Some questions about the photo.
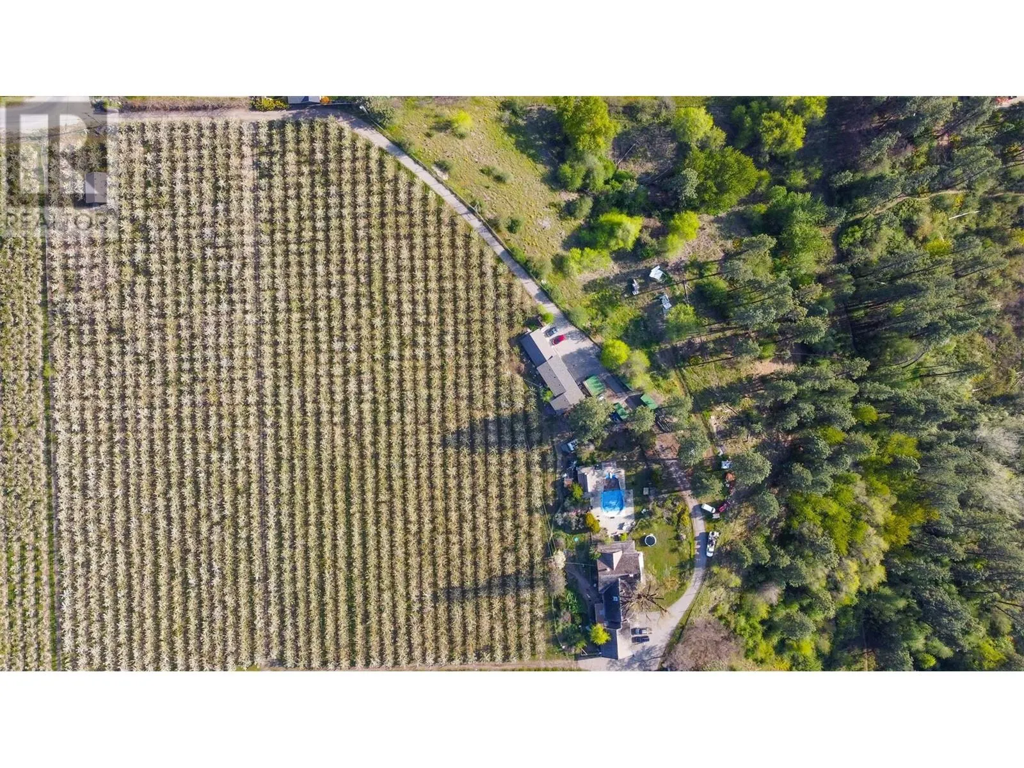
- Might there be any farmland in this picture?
Yes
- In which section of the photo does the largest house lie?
bottom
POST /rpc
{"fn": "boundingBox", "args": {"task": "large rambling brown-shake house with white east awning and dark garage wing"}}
[594,540,645,659]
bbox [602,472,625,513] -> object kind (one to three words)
swimming pool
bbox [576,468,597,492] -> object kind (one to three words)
building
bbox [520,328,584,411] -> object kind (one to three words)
building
